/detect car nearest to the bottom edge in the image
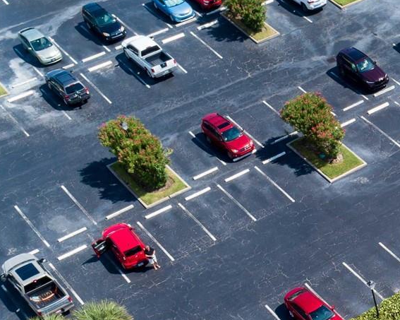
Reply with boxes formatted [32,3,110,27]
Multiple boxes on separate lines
[281,286,337,320]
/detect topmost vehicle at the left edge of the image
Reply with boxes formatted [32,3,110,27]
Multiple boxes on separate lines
[19,30,62,66]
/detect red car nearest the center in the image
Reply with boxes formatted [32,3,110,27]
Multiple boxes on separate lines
[202,114,255,162]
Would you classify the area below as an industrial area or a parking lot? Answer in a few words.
parking lot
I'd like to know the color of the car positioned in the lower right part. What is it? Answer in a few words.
red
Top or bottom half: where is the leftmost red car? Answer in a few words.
bottom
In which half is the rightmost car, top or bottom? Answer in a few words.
top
